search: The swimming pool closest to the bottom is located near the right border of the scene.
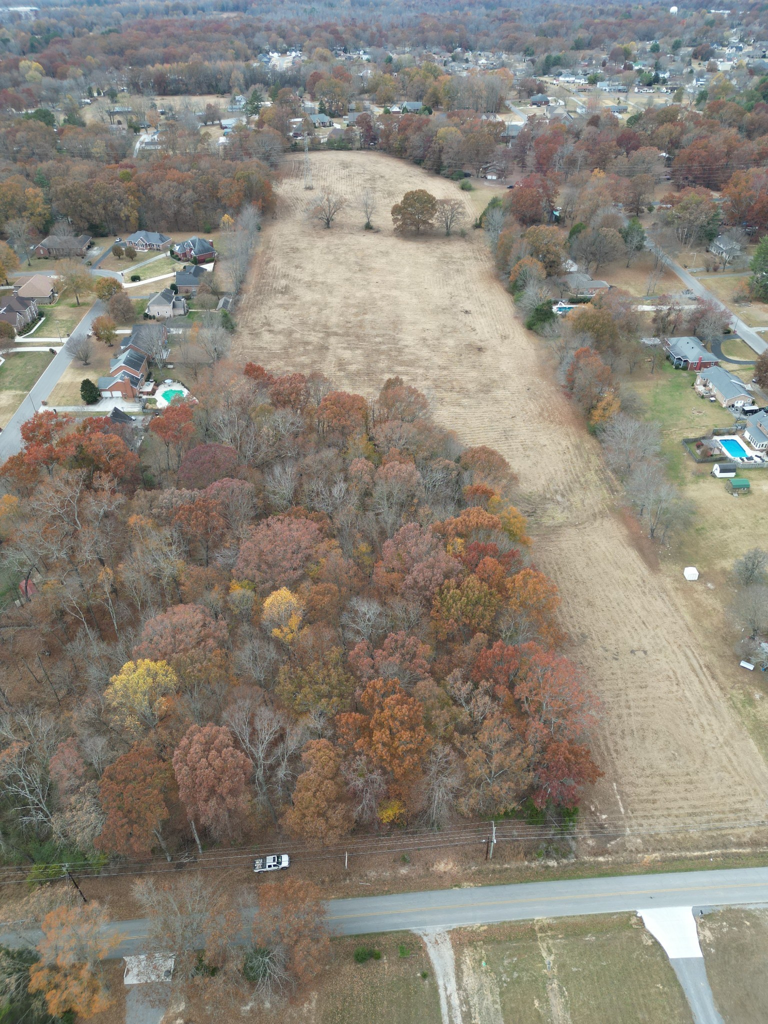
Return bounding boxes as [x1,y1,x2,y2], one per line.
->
[719,439,750,458]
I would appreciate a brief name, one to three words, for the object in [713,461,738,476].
shed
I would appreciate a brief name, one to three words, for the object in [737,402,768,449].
house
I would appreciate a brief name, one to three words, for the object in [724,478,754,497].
building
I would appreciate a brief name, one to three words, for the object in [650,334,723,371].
house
